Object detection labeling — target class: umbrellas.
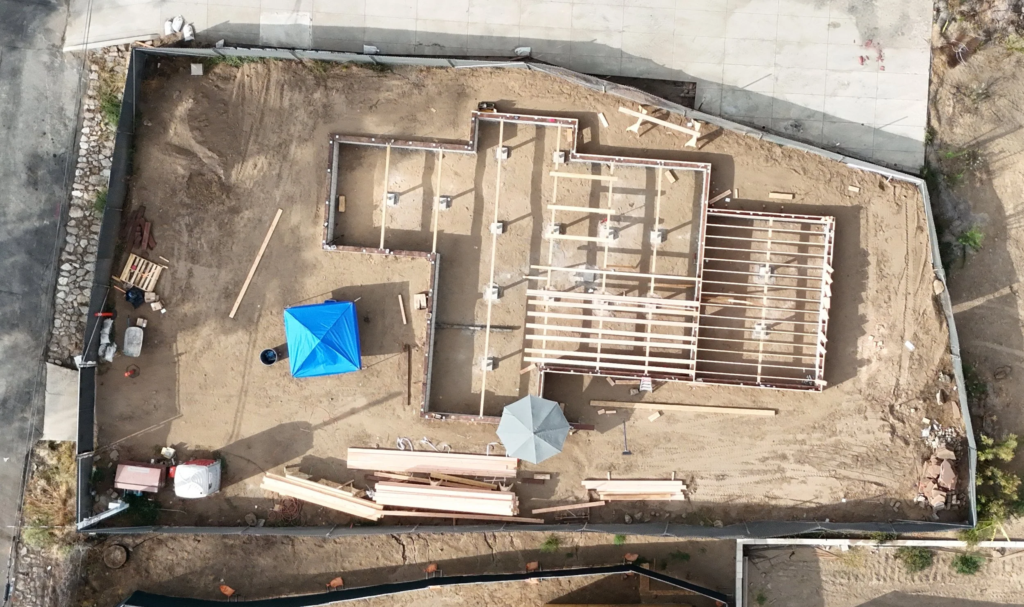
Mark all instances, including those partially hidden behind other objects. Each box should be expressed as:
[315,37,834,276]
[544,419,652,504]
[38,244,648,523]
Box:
[497,395,570,464]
